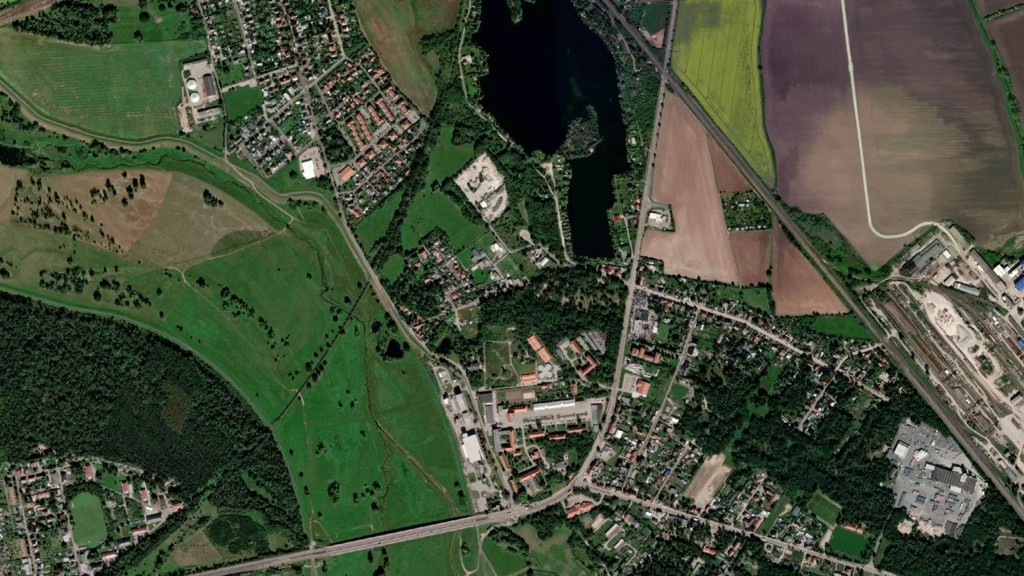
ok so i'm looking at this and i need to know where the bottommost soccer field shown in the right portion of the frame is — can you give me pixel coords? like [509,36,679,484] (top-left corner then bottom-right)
[830,527,869,557]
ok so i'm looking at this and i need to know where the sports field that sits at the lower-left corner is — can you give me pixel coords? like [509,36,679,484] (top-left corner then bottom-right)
[71,492,107,548]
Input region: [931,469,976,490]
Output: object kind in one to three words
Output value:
building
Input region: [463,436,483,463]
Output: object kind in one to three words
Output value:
building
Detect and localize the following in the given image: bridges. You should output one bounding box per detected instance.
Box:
[327,516,475,559]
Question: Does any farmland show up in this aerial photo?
Yes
